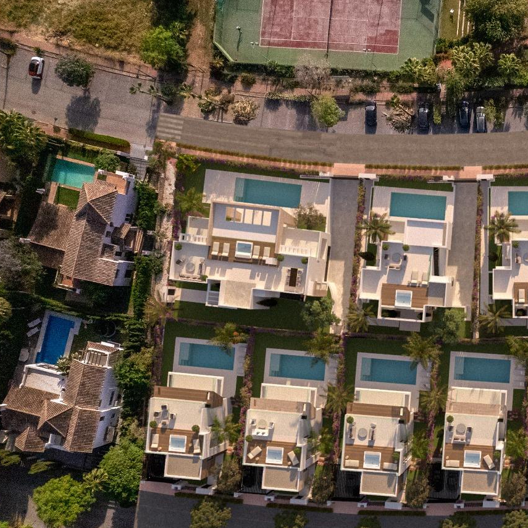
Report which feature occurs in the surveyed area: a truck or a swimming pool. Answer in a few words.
swimming pool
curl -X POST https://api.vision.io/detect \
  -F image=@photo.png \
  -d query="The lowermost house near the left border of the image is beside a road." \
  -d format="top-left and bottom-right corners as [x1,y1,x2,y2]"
[0,342,126,454]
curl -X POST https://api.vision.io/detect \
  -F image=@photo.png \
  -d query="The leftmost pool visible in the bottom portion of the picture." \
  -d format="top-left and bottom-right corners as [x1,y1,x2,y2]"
[30,310,82,368]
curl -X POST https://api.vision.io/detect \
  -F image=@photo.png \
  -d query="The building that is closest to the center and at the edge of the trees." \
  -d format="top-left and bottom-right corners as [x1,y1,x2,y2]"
[169,201,343,308]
